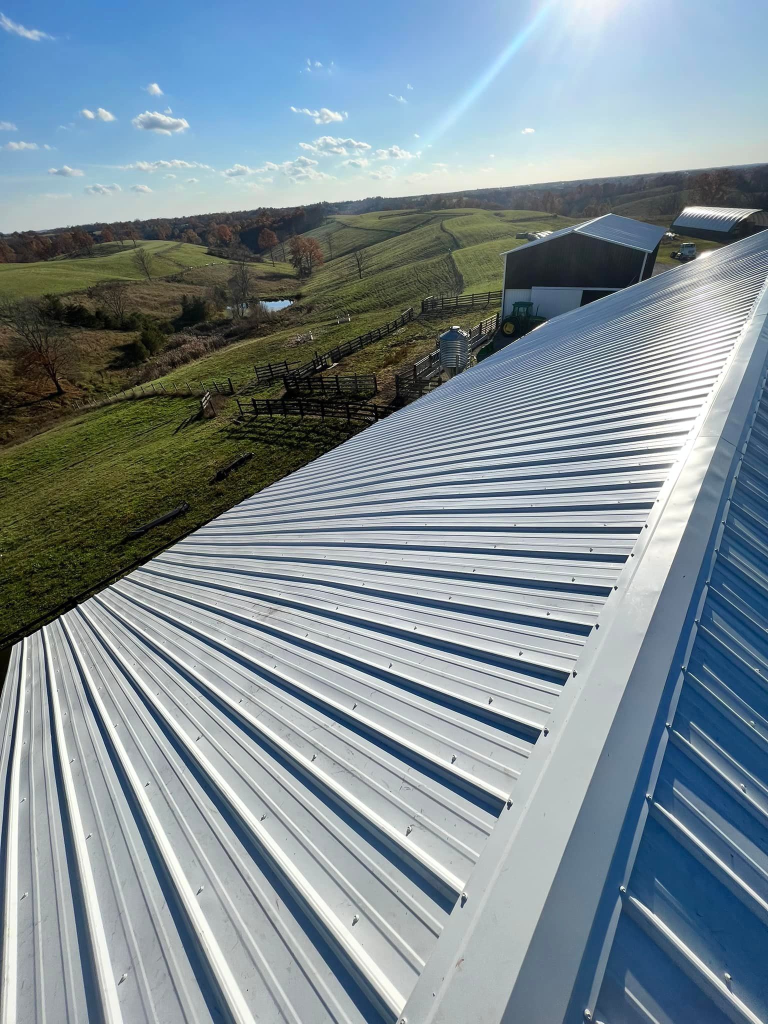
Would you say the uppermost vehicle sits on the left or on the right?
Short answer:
right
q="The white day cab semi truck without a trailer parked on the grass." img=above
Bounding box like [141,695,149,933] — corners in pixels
[673,240,705,260]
